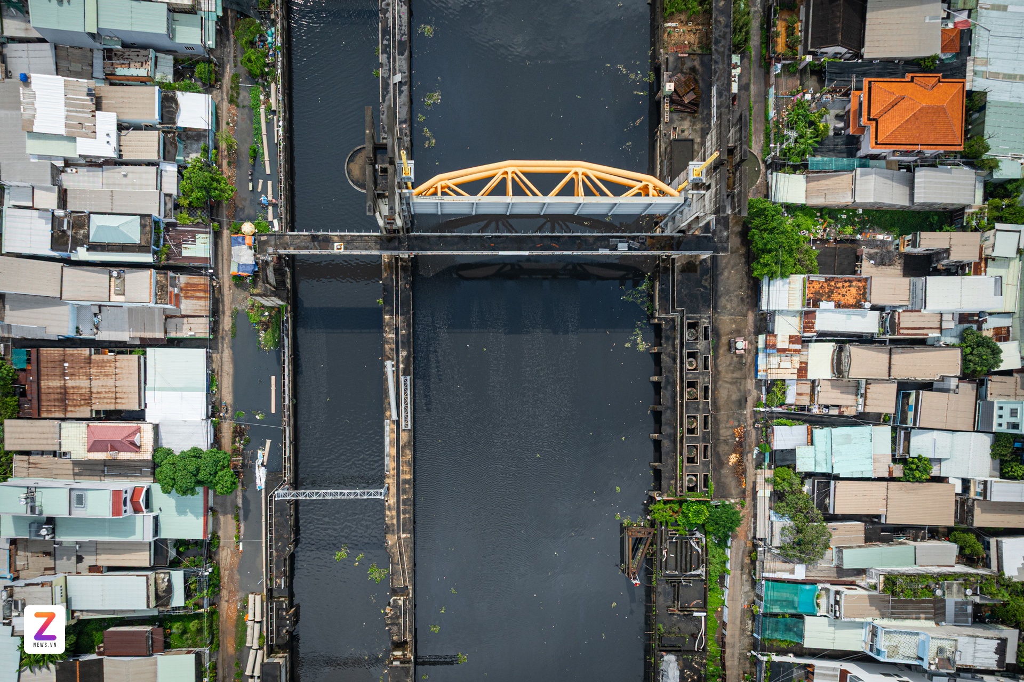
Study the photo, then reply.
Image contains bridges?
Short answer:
Yes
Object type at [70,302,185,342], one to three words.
house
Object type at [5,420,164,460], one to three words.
house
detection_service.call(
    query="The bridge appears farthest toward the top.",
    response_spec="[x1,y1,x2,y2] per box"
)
[256,228,730,262]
